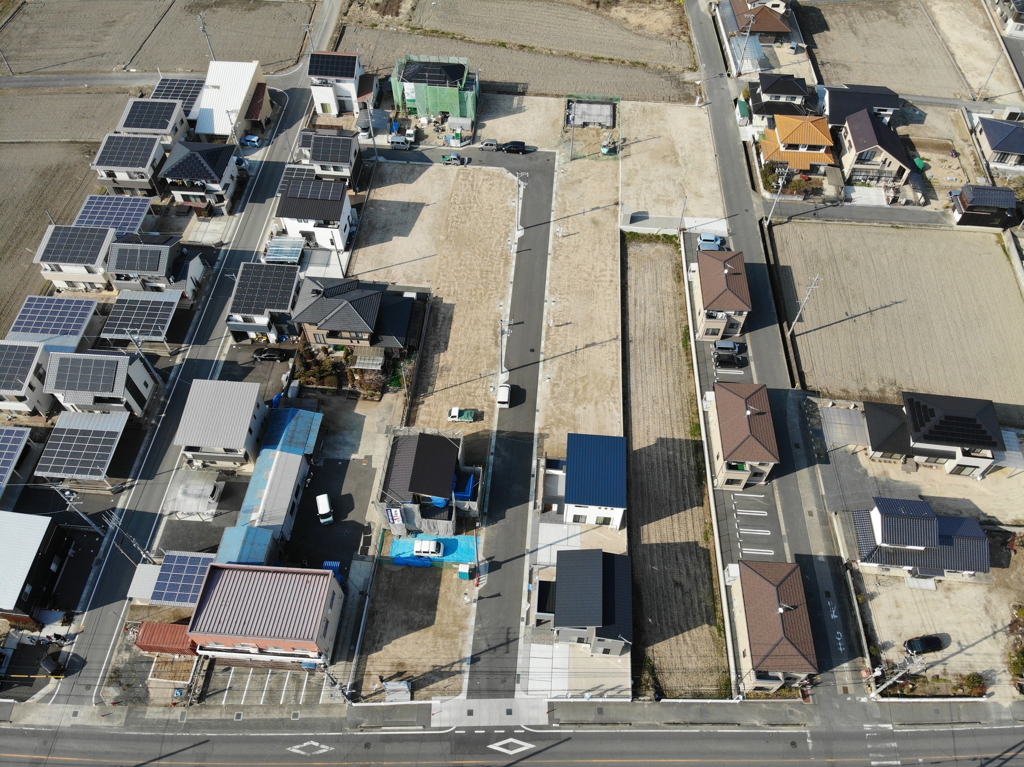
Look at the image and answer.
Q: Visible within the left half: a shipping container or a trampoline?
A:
shipping container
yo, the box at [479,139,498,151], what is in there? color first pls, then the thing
gray vehicle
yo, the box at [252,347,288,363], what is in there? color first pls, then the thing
black car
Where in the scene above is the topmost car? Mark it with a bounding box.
[785,39,800,55]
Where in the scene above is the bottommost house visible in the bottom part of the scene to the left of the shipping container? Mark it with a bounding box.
[0,513,78,642]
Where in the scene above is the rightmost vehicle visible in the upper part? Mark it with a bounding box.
[944,186,963,199]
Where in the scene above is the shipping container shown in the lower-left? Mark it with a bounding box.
[135,621,203,655]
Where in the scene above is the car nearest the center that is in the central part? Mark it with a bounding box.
[497,380,511,406]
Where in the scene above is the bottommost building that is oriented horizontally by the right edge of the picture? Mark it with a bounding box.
[845,497,990,574]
